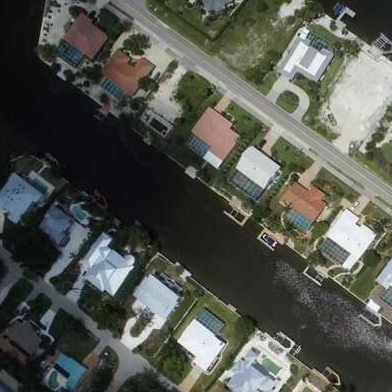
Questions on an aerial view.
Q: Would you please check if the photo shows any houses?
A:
Yes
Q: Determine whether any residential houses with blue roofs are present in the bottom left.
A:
Yes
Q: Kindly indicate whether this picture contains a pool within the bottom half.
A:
Yes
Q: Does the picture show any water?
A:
Yes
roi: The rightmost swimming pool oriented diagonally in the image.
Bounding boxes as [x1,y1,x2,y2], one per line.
[321,238,349,265]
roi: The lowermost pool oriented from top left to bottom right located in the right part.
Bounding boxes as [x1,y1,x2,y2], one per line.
[262,356,282,376]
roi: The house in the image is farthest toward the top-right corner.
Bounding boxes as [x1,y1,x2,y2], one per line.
[278,28,335,82]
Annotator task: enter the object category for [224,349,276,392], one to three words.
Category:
house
